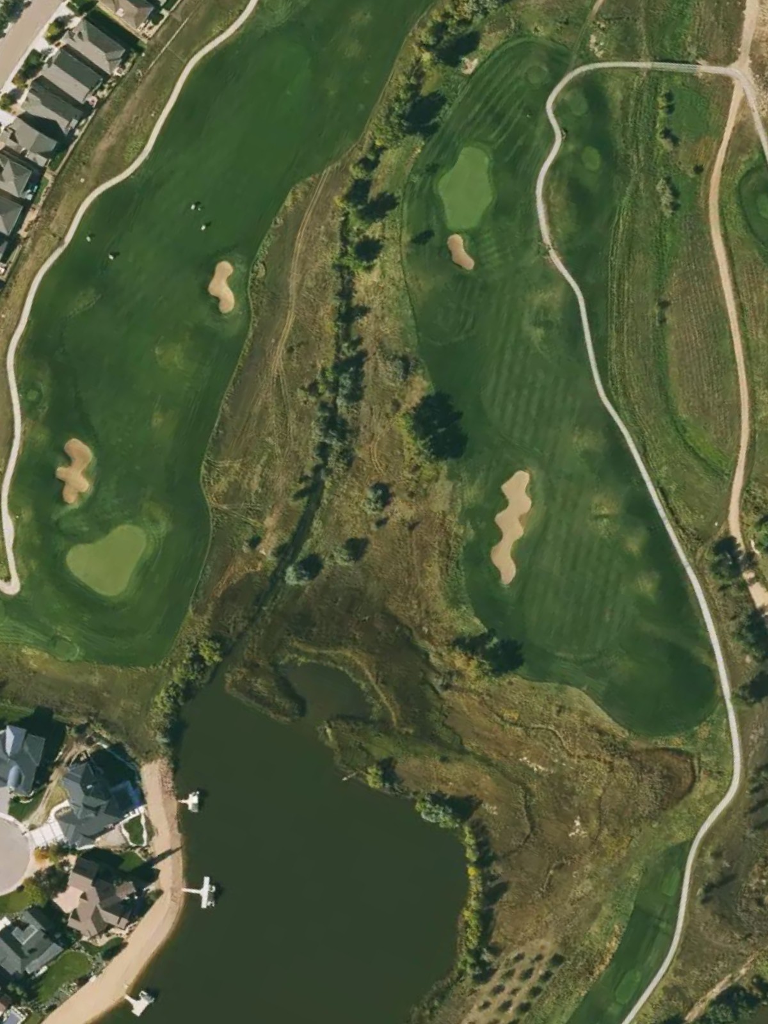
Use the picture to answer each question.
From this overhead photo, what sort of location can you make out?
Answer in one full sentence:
The area seen from above is a golf course.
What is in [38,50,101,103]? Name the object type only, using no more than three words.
house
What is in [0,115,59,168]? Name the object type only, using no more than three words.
house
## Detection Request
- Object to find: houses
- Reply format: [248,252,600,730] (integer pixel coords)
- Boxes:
[18,86,82,136]
[0,232,13,260]
[62,19,125,77]
[64,856,136,938]
[38,50,101,103]
[0,153,35,198]
[57,754,131,852]
[0,115,59,168]
[0,194,24,235]
[0,724,45,795]
[97,0,150,27]
[0,915,65,981]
